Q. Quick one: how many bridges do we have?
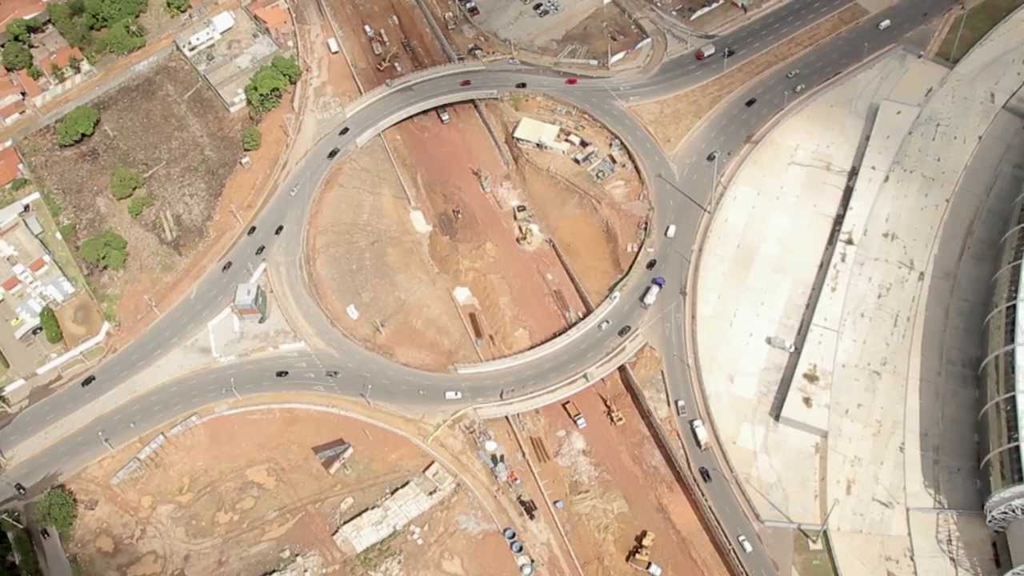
2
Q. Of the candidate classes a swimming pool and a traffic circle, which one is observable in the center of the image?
traffic circle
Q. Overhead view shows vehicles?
Yes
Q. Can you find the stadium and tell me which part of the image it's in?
right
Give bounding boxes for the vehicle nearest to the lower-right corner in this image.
[738,535,751,552]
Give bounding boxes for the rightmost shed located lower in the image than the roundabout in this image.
[312,438,356,476]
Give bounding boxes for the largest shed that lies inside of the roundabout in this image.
[514,120,561,150]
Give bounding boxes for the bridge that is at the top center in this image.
[341,56,504,150]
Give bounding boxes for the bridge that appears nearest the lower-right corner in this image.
[454,292,647,418]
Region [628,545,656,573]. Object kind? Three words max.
truck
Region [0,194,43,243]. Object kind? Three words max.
shed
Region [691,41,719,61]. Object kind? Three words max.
vehicle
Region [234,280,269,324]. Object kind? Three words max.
building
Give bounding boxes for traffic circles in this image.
[266,64,703,414]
